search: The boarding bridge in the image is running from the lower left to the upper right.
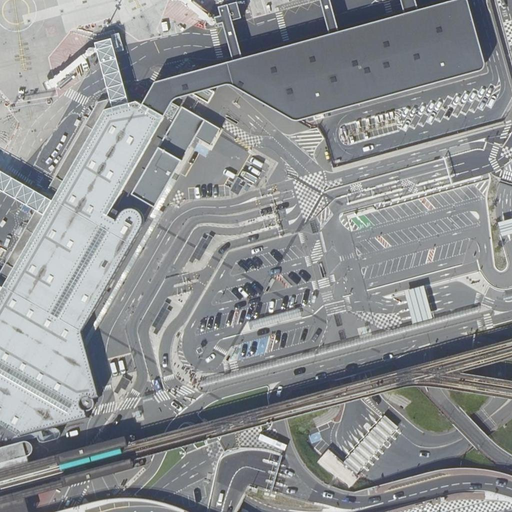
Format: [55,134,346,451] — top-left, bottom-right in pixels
[45,48,96,90]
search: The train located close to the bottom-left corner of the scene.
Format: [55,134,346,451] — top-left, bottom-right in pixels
[59,448,122,469]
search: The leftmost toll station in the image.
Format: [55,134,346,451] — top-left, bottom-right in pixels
[263,455,290,499]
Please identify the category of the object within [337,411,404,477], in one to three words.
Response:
toll station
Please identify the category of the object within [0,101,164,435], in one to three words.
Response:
building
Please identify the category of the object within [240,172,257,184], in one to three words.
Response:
vehicle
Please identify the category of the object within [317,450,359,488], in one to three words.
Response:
building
